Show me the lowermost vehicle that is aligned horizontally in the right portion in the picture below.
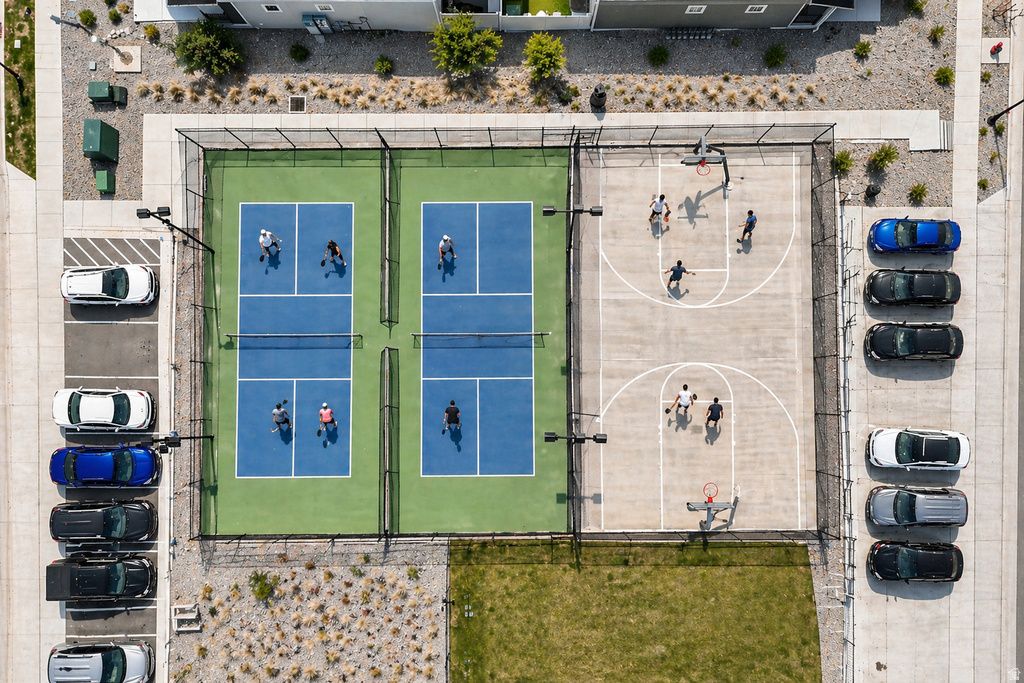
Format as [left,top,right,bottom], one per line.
[866,538,966,587]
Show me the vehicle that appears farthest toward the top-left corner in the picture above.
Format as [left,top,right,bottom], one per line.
[59,261,161,308]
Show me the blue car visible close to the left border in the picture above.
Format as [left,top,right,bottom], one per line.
[49,443,163,490]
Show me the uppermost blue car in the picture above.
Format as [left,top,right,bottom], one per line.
[867,213,962,257]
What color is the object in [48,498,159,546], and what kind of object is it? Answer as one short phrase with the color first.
black car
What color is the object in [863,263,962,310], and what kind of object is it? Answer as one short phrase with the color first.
black car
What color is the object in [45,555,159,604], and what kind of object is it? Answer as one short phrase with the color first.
black truck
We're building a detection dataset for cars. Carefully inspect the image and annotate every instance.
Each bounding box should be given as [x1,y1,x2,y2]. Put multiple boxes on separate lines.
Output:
[48,498,159,546]
[867,213,962,257]
[865,483,970,531]
[59,261,161,308]
[866,426,972,473]
[45,641,156,683]
[866,538,966,587]
[49,443,163,490]
[53,386,158,433]
[863,263,962,310]
[863,318,964,365]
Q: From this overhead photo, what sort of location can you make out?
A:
sports ground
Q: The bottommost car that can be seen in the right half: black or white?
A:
black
